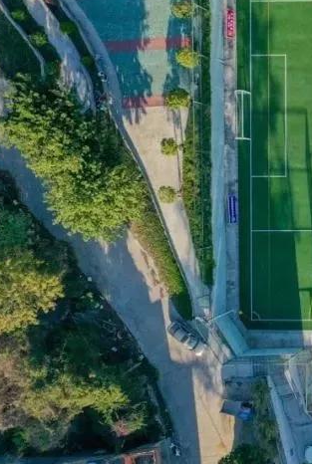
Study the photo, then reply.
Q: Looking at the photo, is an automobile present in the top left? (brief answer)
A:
No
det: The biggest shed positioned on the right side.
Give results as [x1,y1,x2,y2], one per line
[213,399,250,423]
